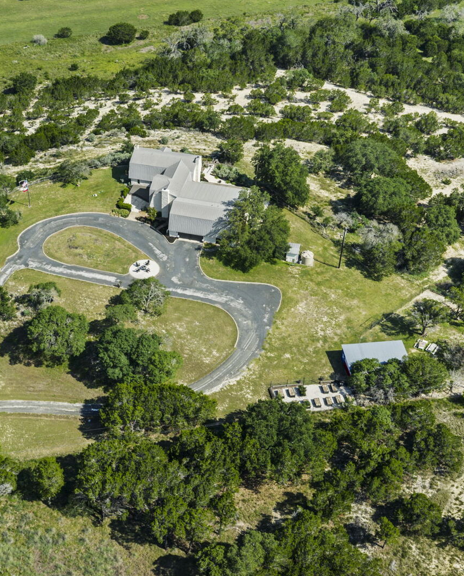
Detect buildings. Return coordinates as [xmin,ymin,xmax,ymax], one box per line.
[129,140,245,245]
[286,242,300,263]
[340,339,412,380]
